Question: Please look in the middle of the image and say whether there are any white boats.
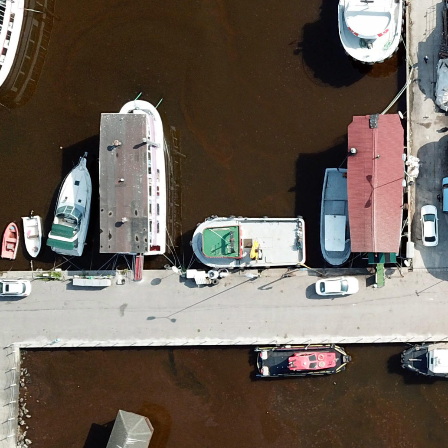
Yes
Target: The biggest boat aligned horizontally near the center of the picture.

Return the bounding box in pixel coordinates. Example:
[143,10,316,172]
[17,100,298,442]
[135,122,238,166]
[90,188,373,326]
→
[181,215,322,273]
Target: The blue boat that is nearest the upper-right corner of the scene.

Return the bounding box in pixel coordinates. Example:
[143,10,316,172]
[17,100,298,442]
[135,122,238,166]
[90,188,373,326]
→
[320,156,351,265]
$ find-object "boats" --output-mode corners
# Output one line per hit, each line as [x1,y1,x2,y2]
[97,92,180,270]
[348,79,410,271]
[181,215,322,273]
[1,222,20,271]
[257,337,351,375]
[23,213,42,270]
[0,0,24,89]
[320,156,351,265]
[399,338,448,377]
[48,151,99,270]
